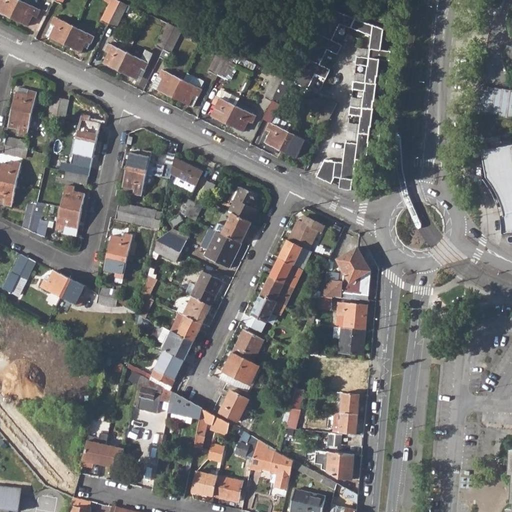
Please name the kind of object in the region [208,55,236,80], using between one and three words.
shed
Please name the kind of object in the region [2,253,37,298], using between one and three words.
house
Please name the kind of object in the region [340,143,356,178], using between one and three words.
building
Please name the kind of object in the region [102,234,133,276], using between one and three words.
house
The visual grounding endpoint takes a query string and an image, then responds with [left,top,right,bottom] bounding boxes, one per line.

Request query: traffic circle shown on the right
[396,200,444,252]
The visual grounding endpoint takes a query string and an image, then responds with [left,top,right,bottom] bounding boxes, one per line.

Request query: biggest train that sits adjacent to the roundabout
[396,134,421,228]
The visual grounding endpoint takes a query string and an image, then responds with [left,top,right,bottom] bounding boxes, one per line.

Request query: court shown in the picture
[22,489,62,512]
